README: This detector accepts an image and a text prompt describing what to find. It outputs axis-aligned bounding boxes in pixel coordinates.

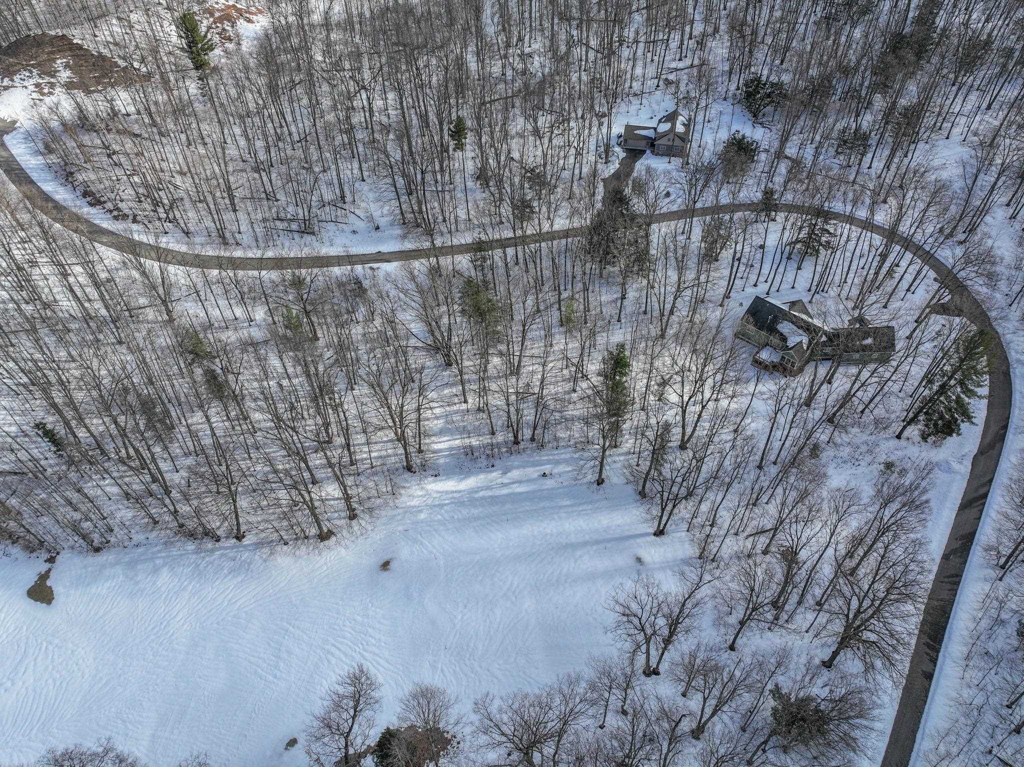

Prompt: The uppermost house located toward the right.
[624,110,688,155]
